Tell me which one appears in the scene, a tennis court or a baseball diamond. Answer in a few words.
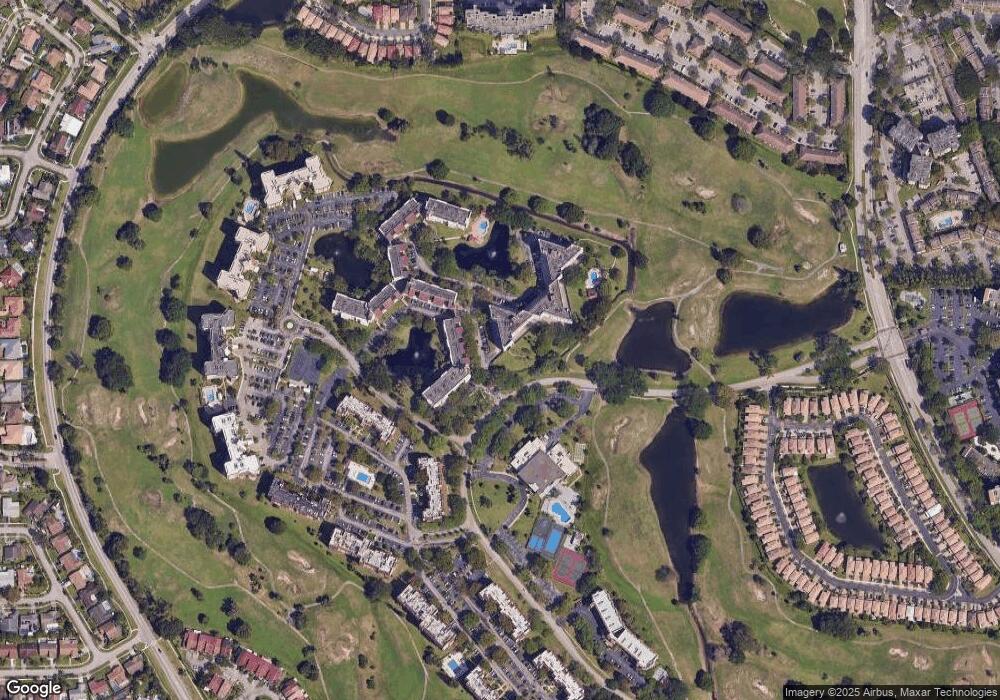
tennis court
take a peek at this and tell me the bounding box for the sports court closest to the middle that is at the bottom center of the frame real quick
[526,516,562,558]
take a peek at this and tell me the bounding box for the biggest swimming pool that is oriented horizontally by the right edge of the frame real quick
[928,210,963,228]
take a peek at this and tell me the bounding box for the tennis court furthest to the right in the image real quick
[949,399,987,440]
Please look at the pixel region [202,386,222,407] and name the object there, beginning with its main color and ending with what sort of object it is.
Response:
white swimming pool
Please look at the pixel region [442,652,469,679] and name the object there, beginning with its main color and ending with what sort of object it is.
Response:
white swimming pool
